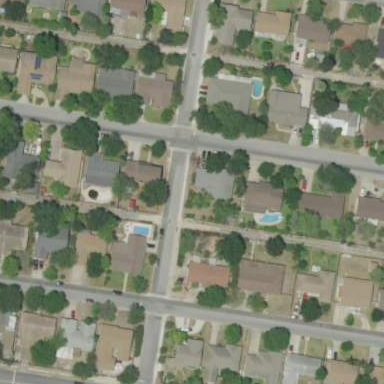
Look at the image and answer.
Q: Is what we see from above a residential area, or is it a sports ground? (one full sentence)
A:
It's a residential area.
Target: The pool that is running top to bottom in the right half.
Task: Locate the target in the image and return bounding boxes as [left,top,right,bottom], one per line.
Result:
[252,76,264,100]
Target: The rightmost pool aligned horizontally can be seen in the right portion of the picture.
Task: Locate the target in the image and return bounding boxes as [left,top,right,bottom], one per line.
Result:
[255,212,283,225]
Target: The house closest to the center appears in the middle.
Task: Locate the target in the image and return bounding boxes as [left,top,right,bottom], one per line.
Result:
[196,166,235,200]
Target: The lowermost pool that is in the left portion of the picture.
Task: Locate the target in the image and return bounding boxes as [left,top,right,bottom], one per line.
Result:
[126,222,156,236]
